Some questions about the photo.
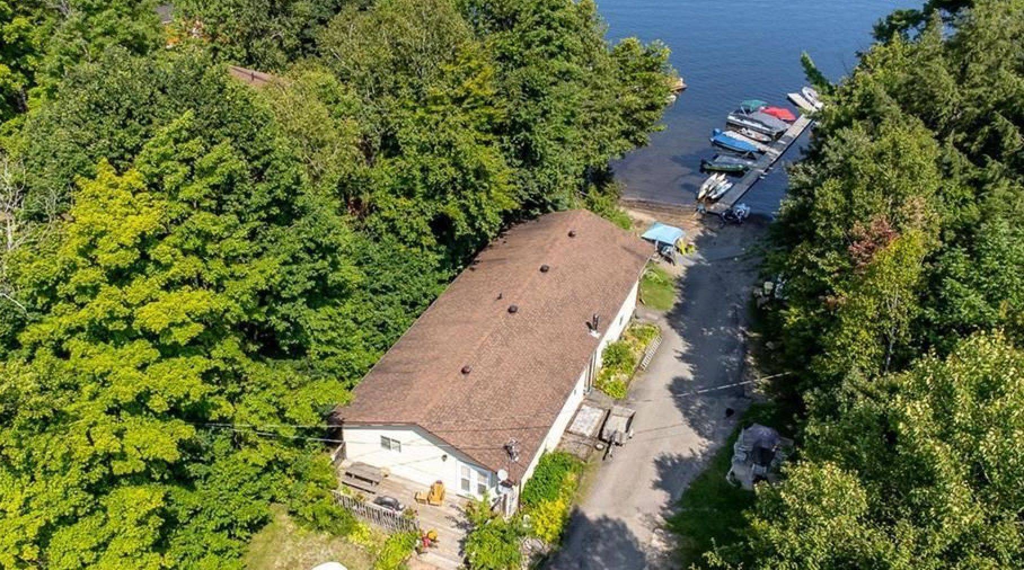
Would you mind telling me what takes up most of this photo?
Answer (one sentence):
What you mostly see from above here is trees.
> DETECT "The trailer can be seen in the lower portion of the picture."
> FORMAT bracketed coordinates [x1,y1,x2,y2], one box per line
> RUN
[595,408,639,465]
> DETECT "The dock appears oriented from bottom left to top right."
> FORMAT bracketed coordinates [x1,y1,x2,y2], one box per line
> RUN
[708,110,821,224]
